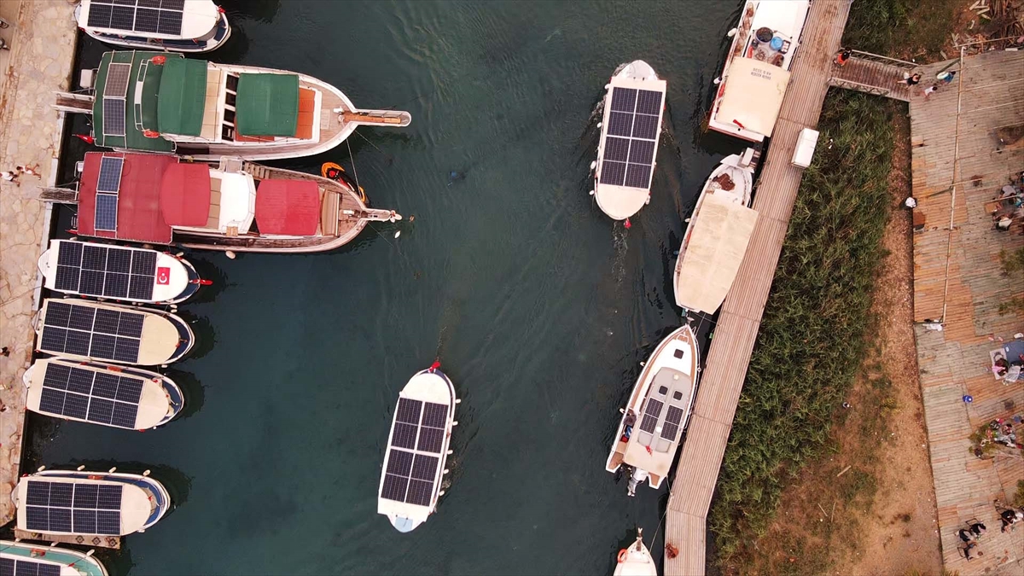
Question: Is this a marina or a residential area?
marina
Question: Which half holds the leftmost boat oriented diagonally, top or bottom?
top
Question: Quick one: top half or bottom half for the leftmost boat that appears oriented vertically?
bottom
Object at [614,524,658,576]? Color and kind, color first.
white boat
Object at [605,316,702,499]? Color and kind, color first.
white boat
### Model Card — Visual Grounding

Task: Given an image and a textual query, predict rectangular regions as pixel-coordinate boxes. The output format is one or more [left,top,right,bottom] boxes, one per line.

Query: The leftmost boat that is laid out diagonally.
[332,167,374,206]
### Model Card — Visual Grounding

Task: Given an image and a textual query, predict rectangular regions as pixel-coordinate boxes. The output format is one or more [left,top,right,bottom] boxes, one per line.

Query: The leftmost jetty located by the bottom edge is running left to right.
[14,528,121,549]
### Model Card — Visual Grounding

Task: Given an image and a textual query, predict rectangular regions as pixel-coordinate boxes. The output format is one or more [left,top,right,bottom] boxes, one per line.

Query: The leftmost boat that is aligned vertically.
[378,354,461,535]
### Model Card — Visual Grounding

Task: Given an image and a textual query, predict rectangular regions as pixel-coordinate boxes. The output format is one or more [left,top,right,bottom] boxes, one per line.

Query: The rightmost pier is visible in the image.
[664,0,852,576]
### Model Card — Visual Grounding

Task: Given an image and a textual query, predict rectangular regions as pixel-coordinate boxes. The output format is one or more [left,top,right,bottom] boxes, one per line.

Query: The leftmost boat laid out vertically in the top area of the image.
[584,60,665,237]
